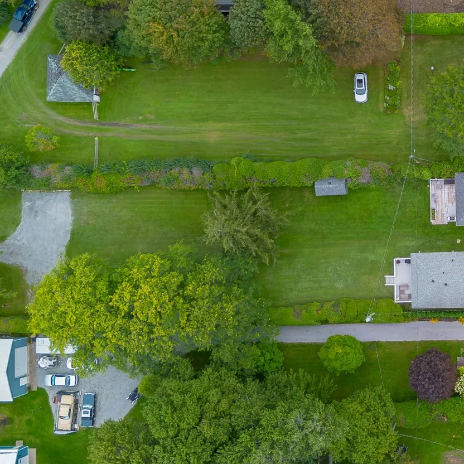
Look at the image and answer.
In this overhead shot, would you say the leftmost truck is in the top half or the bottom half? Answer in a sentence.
The top half of the photo is where the leftmost truck is.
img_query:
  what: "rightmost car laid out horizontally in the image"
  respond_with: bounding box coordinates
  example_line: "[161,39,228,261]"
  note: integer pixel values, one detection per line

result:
[64,357,98,373]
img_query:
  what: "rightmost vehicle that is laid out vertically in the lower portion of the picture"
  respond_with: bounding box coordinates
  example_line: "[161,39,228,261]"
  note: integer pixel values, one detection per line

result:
[77,392,96,428]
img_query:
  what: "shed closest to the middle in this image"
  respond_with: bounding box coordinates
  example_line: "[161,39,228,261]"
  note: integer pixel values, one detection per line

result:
[313,180,350,196]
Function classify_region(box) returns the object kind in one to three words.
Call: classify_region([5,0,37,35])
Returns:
truck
